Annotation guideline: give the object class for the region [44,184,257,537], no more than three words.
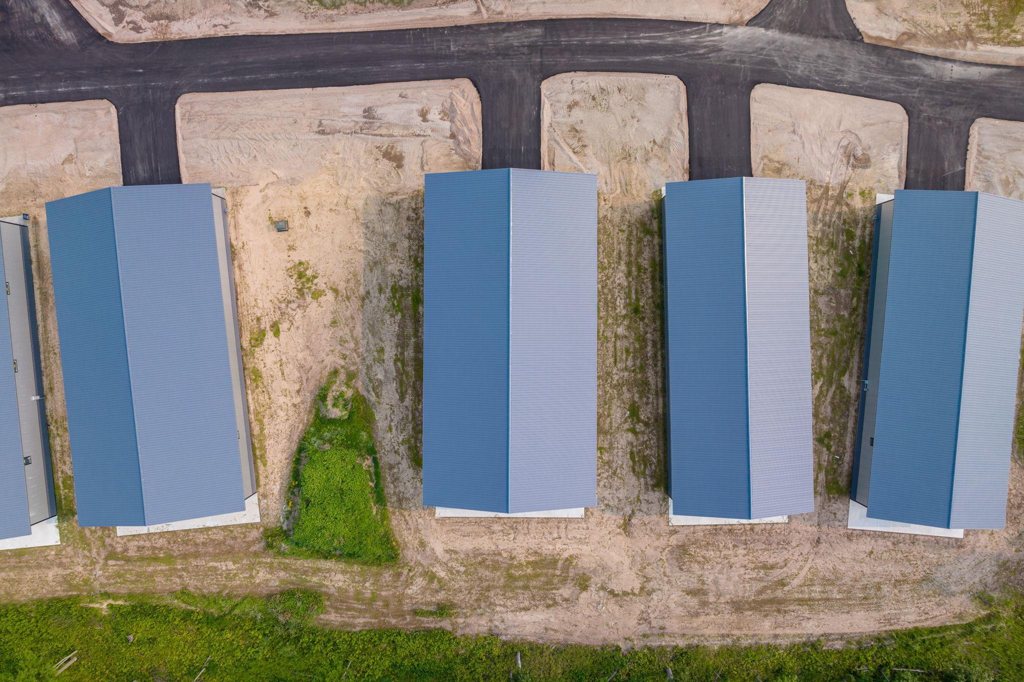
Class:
building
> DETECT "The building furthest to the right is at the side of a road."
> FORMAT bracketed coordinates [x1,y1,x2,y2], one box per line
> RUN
[849,189,1024,539]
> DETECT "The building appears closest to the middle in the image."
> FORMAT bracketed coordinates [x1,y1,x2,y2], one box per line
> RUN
[422,167,598,518]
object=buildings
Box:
[44,184,257,537]
[661,176,814,526]
[422,167,598,518]
[0,208,58,550]
[849,189,1024,539]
